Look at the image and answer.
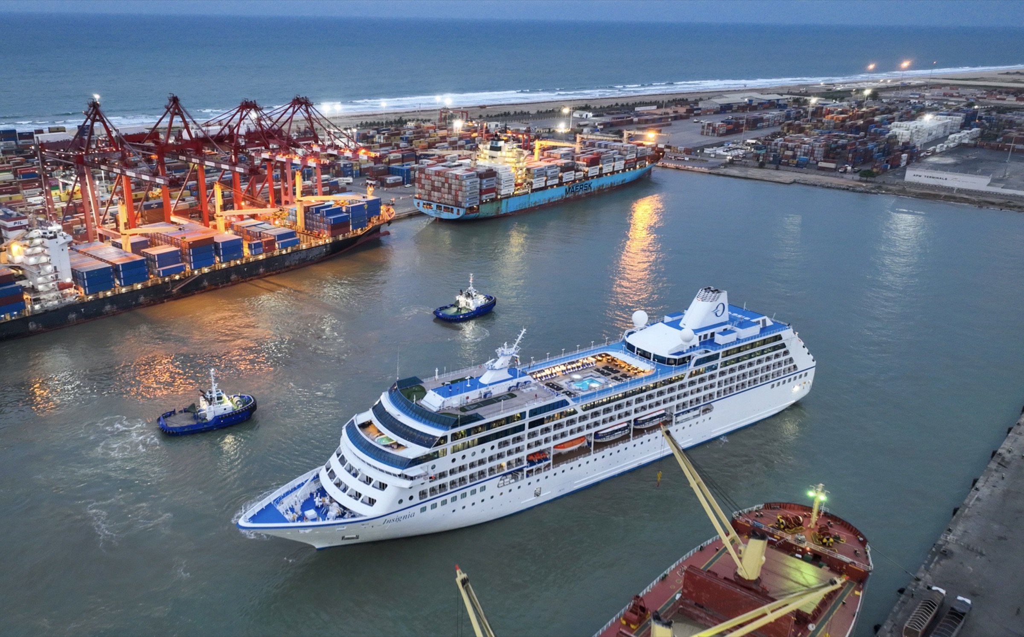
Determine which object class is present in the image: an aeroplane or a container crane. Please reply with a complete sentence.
Visible in the photo is a container crane.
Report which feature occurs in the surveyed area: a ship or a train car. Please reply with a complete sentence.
Of the two, only a ship appears.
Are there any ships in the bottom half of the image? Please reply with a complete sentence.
Yes, a ship can be seen in the bottom half of the image.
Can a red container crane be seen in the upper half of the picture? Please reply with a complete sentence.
Yes, you'll find a red container crane in the upper half of the picture.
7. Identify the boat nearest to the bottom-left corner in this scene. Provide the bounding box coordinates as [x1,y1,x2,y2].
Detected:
[154,368,259,438]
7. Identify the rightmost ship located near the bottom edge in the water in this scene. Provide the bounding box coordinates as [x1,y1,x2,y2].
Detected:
[601,424,874,637]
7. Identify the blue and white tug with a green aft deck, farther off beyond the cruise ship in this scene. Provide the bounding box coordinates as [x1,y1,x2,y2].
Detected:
[430,267,498,319]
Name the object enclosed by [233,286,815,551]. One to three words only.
ship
